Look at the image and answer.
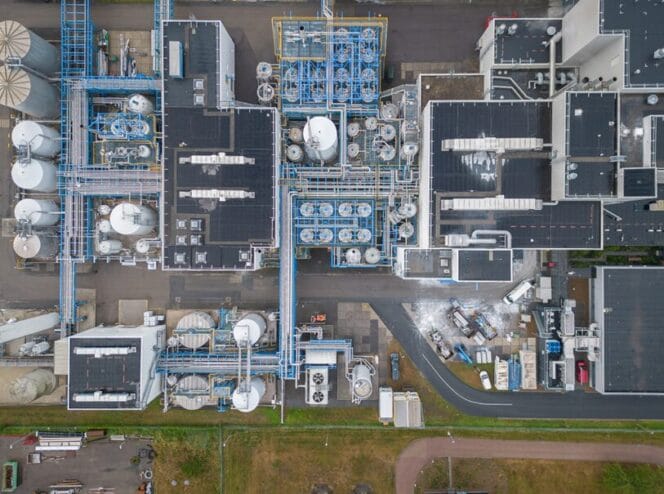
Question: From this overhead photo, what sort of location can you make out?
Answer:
industrial area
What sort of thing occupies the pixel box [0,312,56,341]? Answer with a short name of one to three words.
silo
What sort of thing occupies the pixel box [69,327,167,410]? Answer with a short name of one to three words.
building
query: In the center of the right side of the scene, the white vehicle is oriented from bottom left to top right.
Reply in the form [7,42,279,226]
[501,277,538,307]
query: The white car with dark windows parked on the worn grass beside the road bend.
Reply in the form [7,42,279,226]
[477,368,493,391]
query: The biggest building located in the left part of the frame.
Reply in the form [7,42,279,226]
[163,21,282,270]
